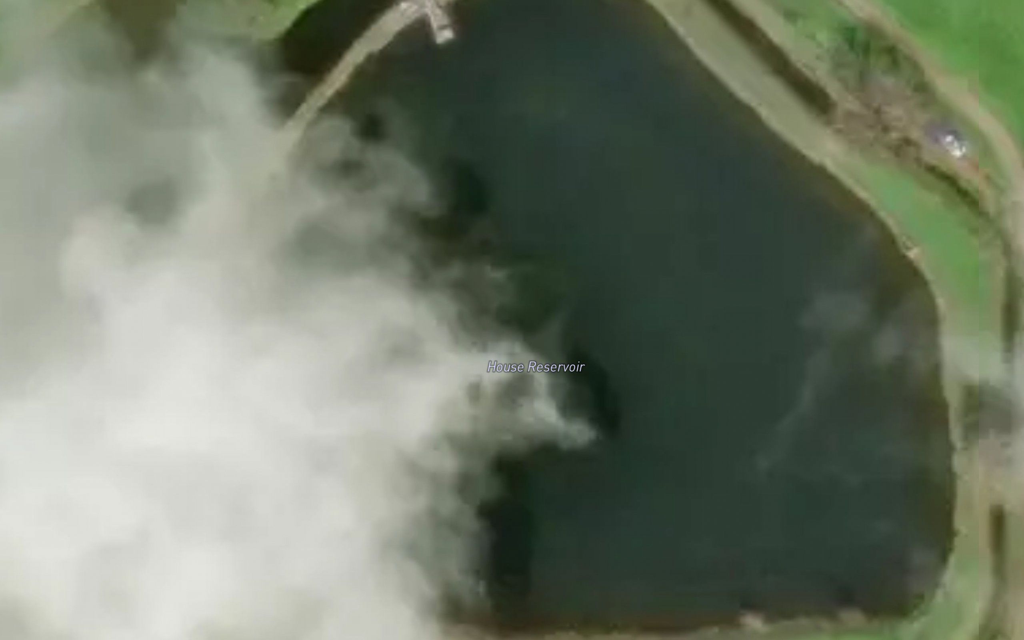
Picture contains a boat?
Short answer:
No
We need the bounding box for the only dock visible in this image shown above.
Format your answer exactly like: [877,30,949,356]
[427,0,453,42]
